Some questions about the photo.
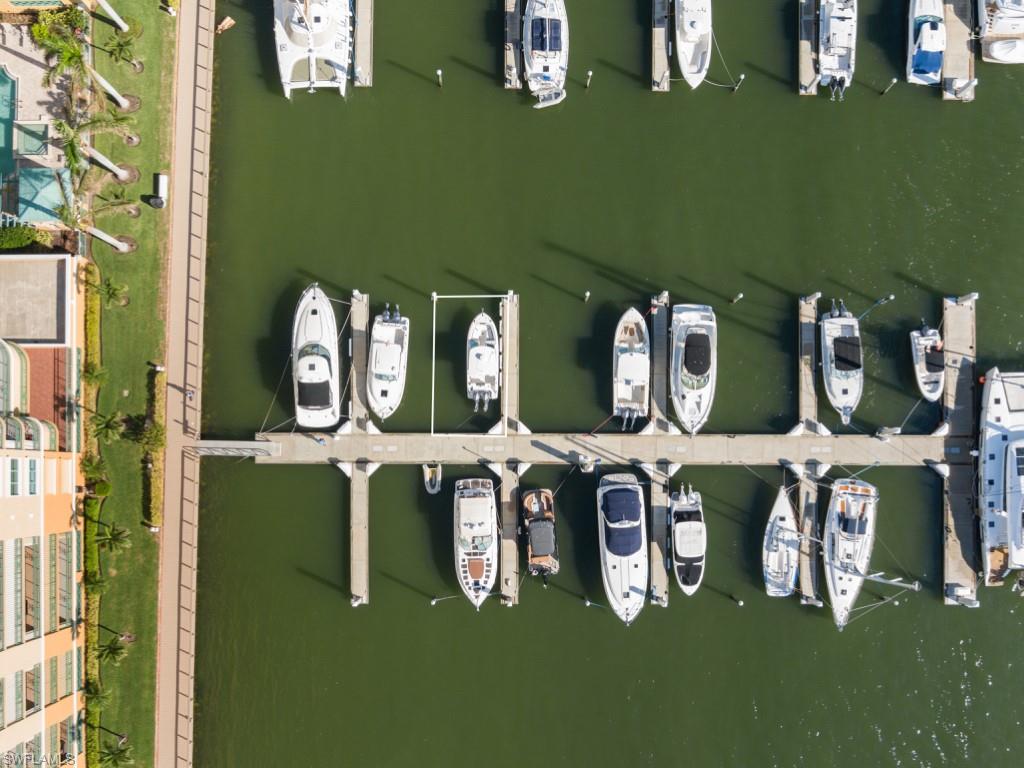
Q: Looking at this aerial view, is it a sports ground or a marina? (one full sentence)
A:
The picture captures a marina.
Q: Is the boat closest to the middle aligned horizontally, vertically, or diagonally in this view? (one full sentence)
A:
In this picture, the boat closest to the middle lies vertically.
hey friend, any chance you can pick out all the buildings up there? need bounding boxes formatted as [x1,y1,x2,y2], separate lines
[0,0,69,14]
[0,252,86,768]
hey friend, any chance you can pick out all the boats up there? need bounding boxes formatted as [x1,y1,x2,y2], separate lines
[453,479,500,612]
[529,93,567,115]
[823,477,929,630]
[523,0,570,96]
[674,0,712,94]
[596,473,648,627]
[365,303,411,424]
[524,488,558,590]
[902,0,946,89]
[423,463,441,493]
[274,0,354,107]
[667,305,716,436]
[817,0,857,104]
[909,315,946,402]
[1013,571,1024,598]
[294,280,345,429]
[467,308,499,415]
[762,487,827,596]
[669,478,705,596]
[613,306,652,433]
[975,0,1024,64]
[976,367,1024,587]
[817,300,870,425]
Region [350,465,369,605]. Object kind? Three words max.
pier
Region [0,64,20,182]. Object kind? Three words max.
swimming pool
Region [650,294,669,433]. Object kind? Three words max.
pier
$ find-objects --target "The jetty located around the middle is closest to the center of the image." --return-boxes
[498,293,519,433]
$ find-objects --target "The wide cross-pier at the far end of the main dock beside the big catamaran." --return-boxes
[941,297,976,605]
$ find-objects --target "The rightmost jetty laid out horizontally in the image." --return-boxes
[255,433,943,465]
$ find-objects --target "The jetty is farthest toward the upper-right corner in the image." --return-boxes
[941,0,974,101]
